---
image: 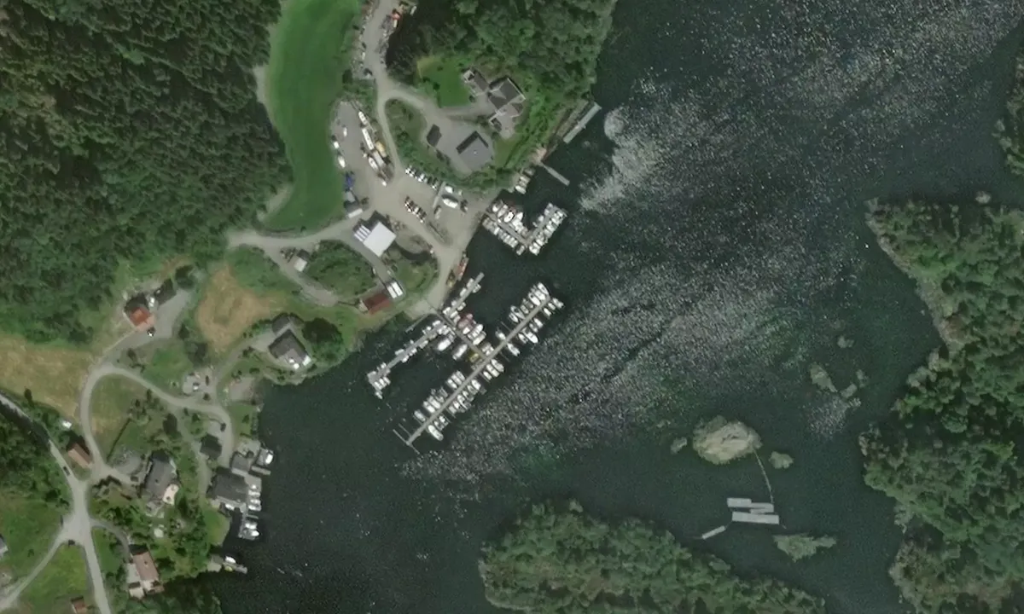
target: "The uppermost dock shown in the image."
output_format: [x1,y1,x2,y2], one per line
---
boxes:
[564,103,601,142]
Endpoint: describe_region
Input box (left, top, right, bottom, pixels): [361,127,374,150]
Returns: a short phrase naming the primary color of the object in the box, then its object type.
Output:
white vehicle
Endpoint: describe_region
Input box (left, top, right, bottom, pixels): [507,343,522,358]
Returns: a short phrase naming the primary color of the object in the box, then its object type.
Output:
white boat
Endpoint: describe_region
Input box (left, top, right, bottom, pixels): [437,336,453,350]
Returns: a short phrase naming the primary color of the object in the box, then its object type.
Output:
white boat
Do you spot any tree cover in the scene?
Yes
